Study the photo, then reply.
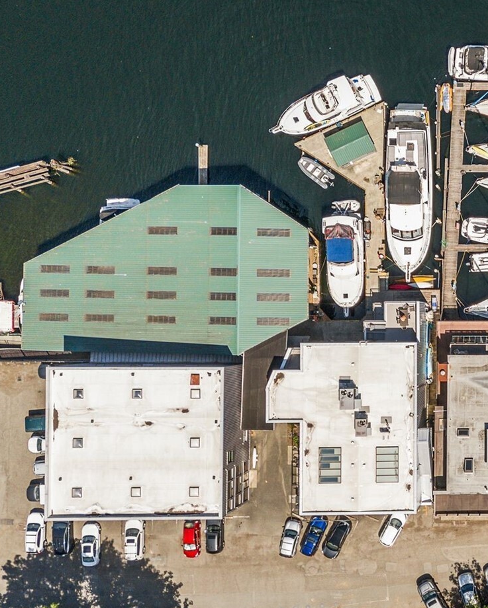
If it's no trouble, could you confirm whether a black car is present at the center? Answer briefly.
No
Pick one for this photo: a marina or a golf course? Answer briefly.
marina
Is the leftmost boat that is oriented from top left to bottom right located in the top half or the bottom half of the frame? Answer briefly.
top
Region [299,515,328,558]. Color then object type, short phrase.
blue car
